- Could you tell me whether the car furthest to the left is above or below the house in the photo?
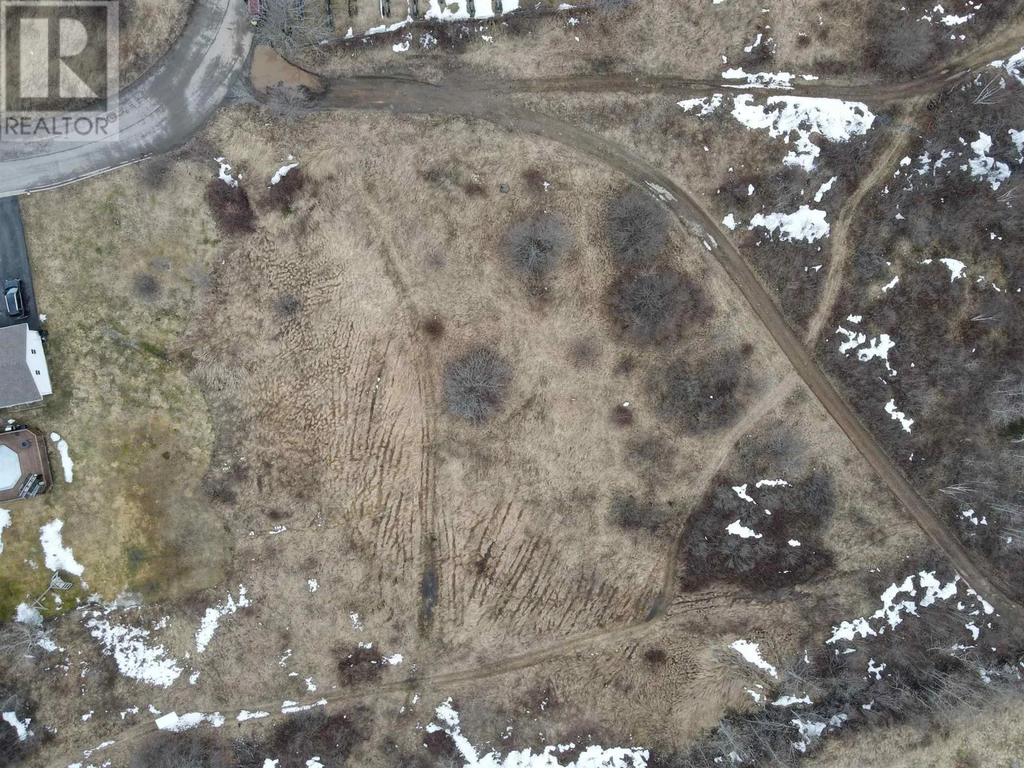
above it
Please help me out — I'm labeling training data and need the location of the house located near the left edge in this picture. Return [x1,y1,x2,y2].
[0,322,52,408]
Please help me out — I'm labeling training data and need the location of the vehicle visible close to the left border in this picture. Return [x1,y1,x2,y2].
[2,279,28,320]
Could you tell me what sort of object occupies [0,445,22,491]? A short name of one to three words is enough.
swimming pool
